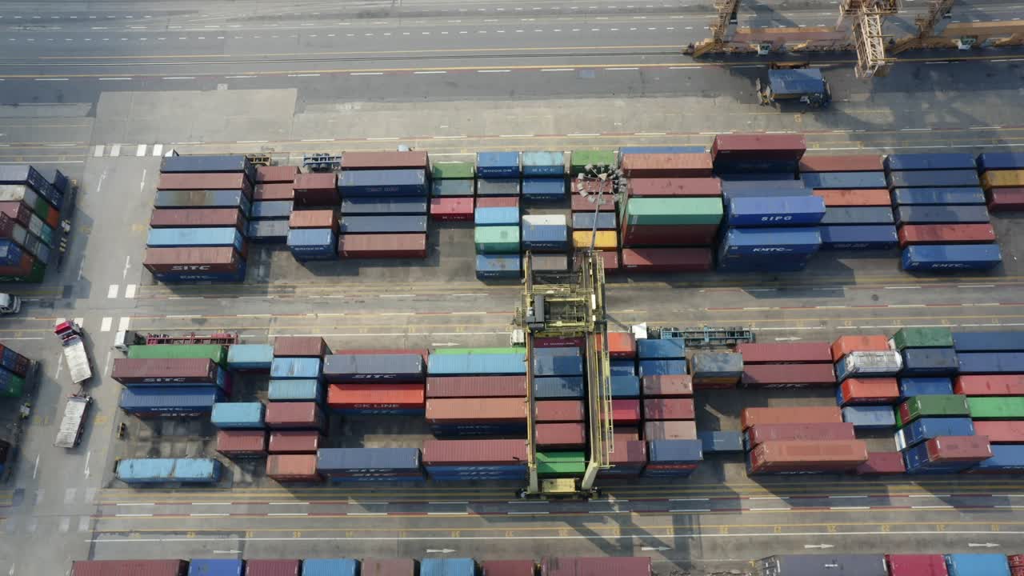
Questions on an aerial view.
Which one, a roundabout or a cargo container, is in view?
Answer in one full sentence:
Visible in the photo is a cargo container.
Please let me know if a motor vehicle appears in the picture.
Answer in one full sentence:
Yes, there's a motor vehicle down there.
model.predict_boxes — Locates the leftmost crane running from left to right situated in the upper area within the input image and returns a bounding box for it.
[690,0,904,98]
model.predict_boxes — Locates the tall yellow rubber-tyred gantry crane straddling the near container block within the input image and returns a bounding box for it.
[508,248,620,497]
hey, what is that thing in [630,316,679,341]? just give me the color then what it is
white truck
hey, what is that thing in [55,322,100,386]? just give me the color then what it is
white truck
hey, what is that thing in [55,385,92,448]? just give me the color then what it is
white trailer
